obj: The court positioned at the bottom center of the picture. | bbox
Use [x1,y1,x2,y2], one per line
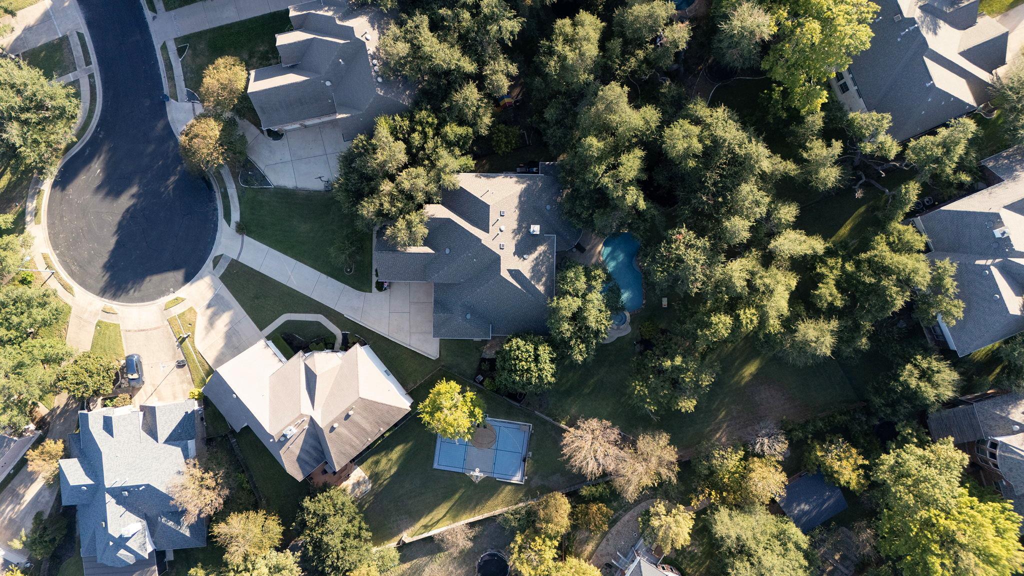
[433,416,532,484]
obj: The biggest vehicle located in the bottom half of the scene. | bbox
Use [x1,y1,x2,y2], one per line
[123,355,143,388]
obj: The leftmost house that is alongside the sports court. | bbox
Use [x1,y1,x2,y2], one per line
[202,338,417,482]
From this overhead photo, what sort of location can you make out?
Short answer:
residential area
